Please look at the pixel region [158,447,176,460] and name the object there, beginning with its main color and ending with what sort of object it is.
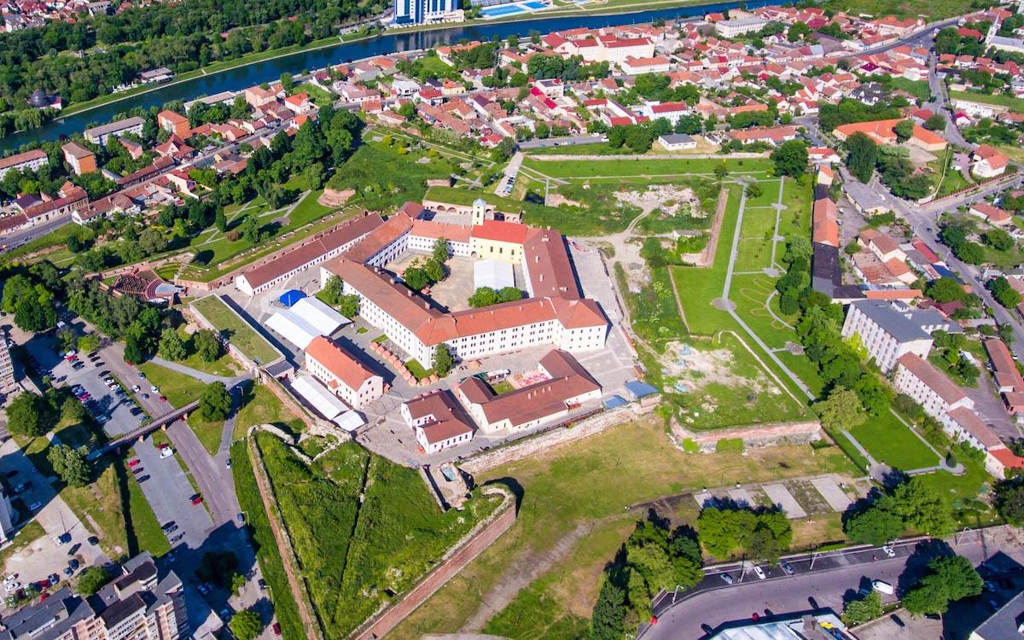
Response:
white vehicle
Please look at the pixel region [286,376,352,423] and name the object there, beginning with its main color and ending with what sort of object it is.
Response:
white tent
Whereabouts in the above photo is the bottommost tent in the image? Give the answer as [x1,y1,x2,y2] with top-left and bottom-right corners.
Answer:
[329,413,368,440]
